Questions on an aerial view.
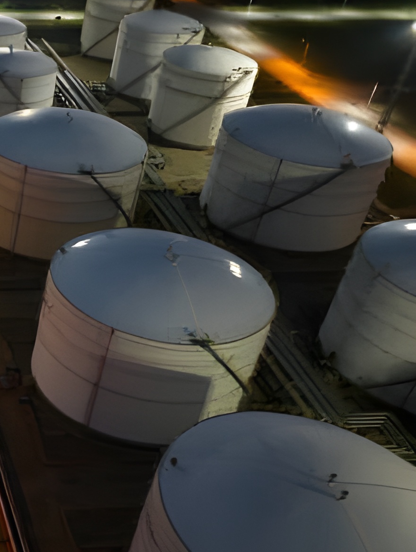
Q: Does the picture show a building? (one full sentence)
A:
No, the scene contains no building.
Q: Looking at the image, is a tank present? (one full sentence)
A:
Yes, a tank appears in the view.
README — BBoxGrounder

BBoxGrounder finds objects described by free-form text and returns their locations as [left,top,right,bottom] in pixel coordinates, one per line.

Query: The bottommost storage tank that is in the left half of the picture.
[28,225,277,447]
